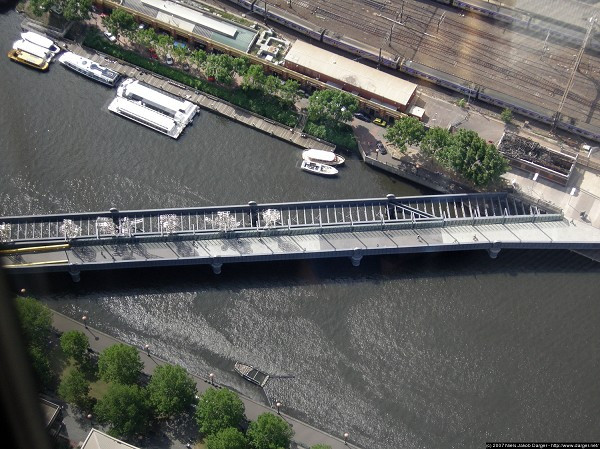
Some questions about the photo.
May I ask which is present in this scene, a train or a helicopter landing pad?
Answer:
train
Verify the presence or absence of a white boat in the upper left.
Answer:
Yes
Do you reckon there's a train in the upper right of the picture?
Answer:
Yes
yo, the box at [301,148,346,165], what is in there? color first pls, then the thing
white boat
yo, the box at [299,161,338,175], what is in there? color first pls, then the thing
white boat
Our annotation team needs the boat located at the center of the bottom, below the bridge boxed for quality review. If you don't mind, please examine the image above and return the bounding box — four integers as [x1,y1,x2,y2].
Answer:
[233,365,271,387]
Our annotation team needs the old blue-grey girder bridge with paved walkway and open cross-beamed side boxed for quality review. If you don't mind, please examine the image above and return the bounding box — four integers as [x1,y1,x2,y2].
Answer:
[0,191,600,285]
